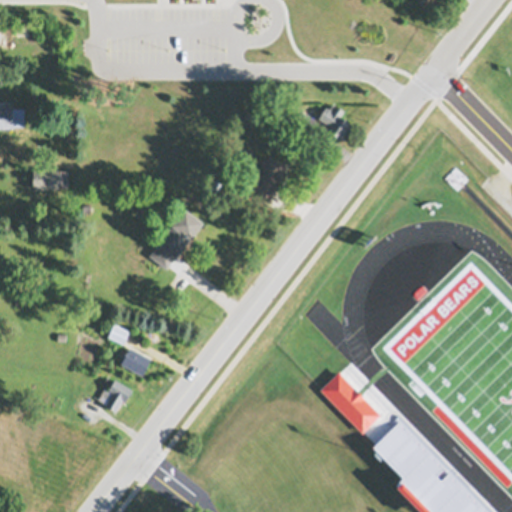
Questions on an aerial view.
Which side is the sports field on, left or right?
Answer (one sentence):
The sports field is on the right side of the image.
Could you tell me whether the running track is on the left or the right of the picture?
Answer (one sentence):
The running track sits on the right side.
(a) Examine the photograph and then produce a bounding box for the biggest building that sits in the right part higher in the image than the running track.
[316,104,352,142]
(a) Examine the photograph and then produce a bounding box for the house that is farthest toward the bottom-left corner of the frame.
[97,382,133,415]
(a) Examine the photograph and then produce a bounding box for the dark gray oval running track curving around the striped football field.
[306,220,512,512]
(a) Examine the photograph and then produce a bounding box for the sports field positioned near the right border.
[372,253,512,494]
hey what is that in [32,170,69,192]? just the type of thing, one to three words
house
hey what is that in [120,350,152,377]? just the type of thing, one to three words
house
